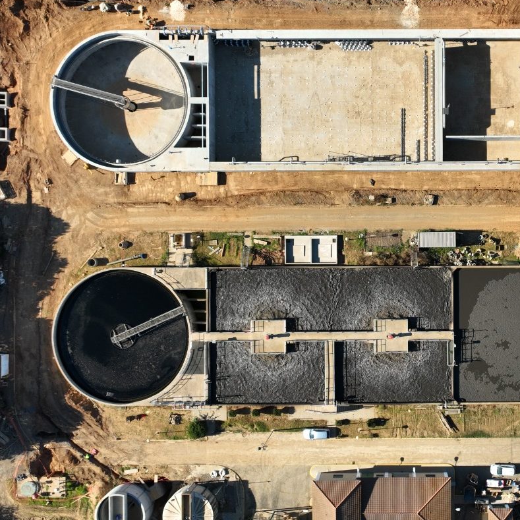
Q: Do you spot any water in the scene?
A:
Yes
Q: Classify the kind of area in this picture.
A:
industrial area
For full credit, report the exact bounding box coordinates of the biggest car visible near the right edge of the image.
[489,461,515,476]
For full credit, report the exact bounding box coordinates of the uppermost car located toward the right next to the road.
[304,426,330,440]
